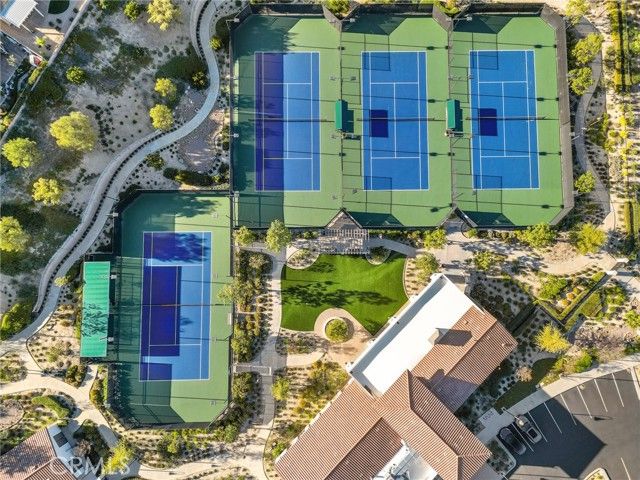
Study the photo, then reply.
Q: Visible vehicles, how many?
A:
two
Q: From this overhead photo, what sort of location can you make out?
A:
sports ground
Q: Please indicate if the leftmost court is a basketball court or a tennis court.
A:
tennis court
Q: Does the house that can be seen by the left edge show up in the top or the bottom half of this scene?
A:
bottom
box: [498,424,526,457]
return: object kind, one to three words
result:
car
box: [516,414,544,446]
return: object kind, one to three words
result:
car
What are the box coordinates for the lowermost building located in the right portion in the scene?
[274,272,518,480]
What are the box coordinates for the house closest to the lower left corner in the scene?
[0,416,108,480]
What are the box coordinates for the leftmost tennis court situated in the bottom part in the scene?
[118,194,232,424]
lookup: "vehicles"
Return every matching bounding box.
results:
[516,414,544,446]
[498,424,526,457]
